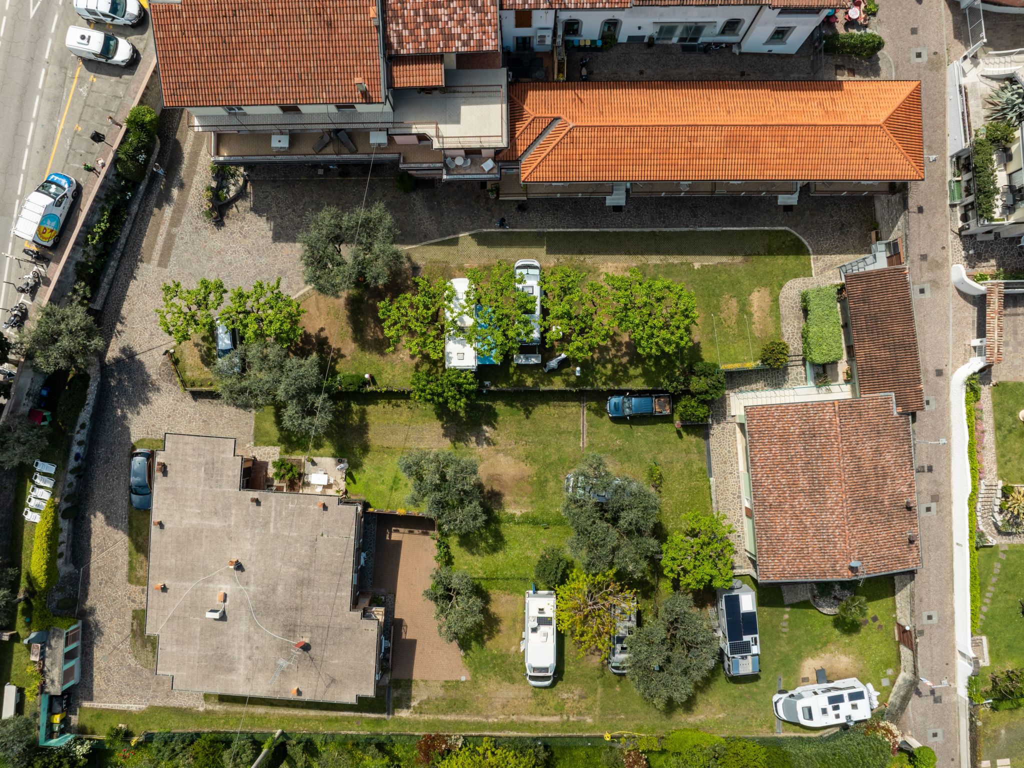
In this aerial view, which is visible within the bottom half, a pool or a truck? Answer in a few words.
truck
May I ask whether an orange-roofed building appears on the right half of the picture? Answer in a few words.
Yes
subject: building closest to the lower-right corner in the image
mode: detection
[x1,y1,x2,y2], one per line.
[730,396,923,585]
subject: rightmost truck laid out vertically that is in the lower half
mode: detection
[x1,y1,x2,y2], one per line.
[714,580,761,679]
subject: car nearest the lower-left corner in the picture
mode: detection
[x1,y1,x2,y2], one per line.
[125,449,153,508]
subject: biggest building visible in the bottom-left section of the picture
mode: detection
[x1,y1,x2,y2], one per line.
[144,432,382,706]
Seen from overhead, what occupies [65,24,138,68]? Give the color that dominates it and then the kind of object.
white van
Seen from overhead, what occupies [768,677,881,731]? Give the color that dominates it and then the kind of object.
white camper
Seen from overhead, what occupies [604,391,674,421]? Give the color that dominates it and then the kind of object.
blue truck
